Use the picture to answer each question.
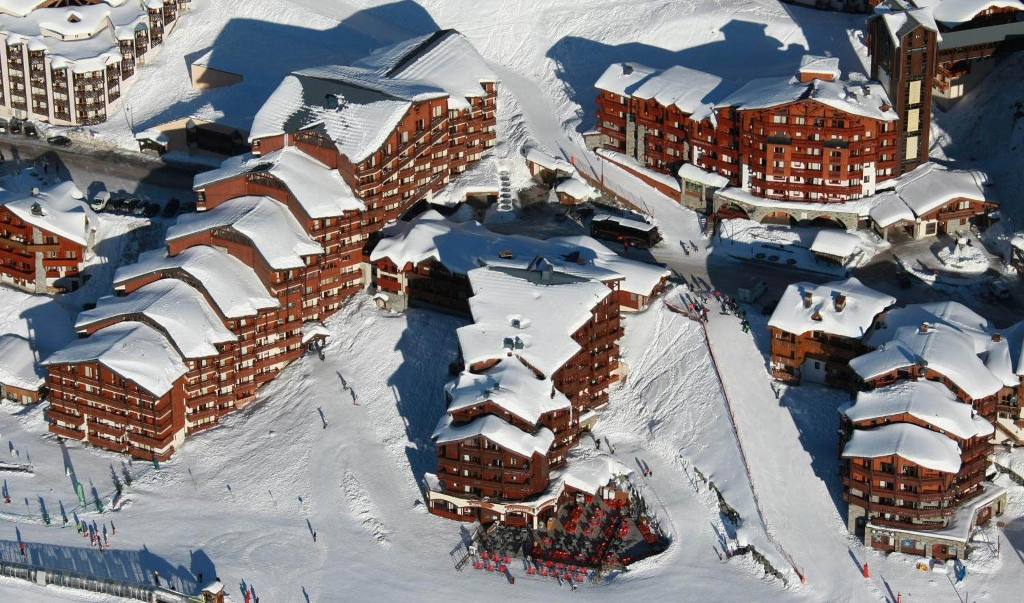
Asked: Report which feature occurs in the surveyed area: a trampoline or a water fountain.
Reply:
water fountain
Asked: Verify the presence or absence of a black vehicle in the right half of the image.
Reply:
Yes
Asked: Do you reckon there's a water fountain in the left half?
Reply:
No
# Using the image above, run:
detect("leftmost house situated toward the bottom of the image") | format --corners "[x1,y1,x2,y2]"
[0,332,45,423]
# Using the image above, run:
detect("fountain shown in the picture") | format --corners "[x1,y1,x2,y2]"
[931,237,988,276]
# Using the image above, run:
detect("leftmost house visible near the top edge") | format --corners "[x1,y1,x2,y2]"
[0,0,187,131]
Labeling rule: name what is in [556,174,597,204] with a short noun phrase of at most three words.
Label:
shed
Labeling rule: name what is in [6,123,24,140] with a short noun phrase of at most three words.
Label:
car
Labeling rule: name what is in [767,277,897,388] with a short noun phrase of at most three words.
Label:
house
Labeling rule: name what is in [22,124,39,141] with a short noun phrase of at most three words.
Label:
car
